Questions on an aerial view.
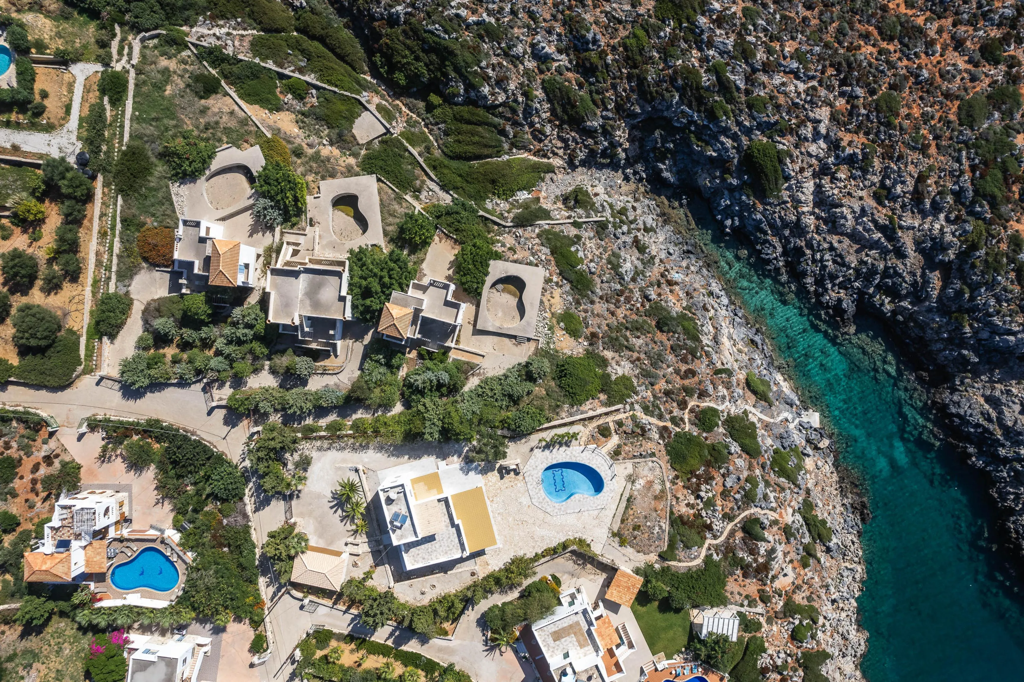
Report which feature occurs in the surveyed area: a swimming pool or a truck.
swimming pool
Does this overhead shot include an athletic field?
No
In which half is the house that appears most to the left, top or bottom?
bottom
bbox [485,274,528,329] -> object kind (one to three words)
swimming pool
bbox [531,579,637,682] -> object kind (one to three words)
house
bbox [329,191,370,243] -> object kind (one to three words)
swimming pool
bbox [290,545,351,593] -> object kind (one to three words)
building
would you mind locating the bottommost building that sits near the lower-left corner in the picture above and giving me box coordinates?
[126,628,219,682]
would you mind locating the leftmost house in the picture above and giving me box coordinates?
[22,487,133,590]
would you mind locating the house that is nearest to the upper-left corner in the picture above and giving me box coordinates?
[174,218,258,295]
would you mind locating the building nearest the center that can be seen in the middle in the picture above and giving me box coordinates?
[377,278,464,352]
